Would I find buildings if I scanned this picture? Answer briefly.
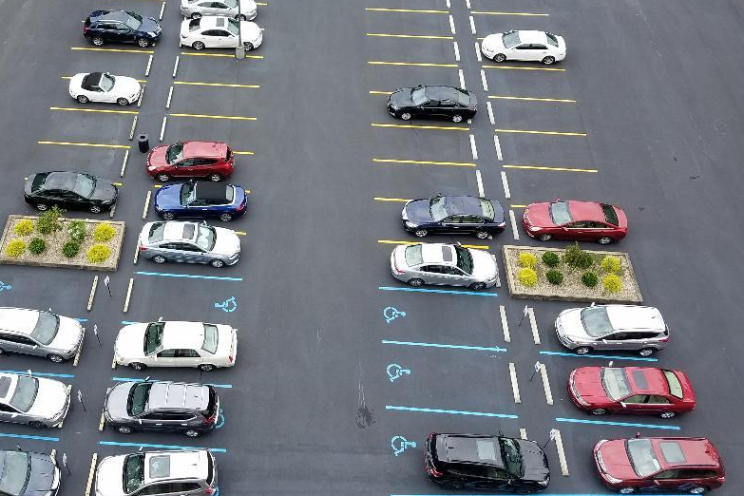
No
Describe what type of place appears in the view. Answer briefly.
parking lot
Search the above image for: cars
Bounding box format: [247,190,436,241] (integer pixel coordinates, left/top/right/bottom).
[400,192,507,239]
[146,138,235,181]
[388,83,478,123]
[0,369,68,429]
[183,17,265,51]
[555,301,675,357]
[82,10,160,47]
[139,220,241,269]
[481,29,569,65]
[20,170,118,213]
[422,427,555,494]
[522,196,631,244]
[68,71,140,106]
[393,241,500,291]
[181,0,258,21]
[102,375,220,438]
[0,305,83,363]
[150,176,250,221]
[114,316,238,372]
[569,360,699,420]
[93,444,219,496]
[593,427,734,495]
